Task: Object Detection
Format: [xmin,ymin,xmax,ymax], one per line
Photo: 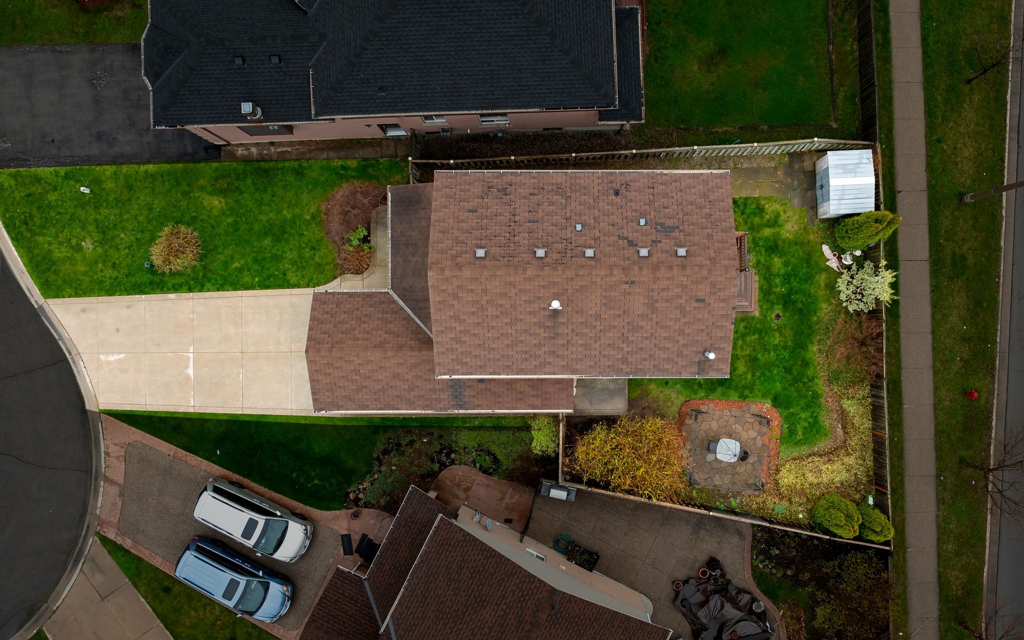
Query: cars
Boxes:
[175,535,295,618]
[192,478,313,558]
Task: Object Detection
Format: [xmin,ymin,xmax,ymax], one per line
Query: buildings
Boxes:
[817,151,876,218]
[305,168,739,414]
[298,484,674,640]
[139,0,647,154]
